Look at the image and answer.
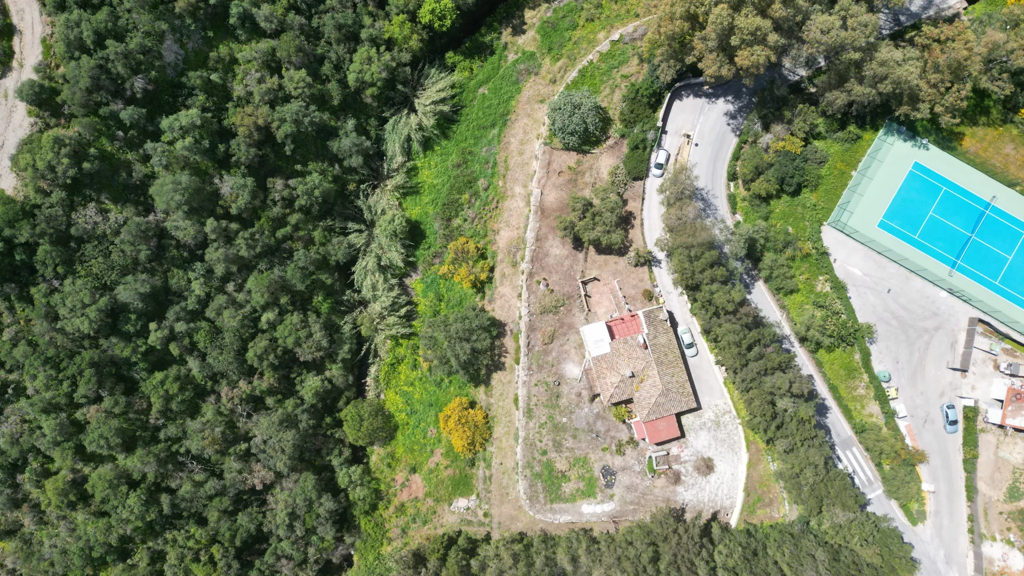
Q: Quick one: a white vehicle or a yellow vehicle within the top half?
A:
white vehicle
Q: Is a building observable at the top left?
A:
No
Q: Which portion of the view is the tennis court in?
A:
right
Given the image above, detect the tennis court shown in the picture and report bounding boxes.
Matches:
[828,122,1024,333]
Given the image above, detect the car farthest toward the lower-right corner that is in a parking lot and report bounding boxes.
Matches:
[938,402,959,434]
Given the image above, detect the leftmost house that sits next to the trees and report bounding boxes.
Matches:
[577,304,698,450]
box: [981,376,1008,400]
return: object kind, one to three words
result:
shed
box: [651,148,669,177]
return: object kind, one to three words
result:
car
